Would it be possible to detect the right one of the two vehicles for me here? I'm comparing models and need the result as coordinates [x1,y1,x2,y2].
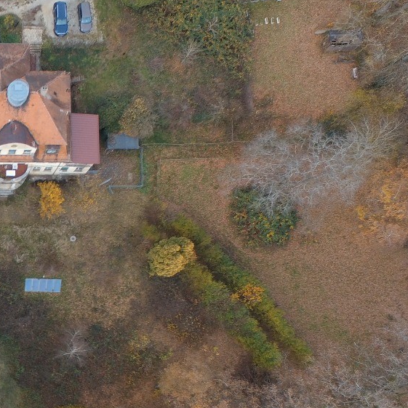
[77,5,92,33]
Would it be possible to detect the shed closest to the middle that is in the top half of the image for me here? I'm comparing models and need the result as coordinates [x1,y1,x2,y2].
[106,133,139,155]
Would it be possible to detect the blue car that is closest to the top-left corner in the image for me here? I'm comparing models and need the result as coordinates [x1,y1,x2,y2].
[52,5,68,35]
